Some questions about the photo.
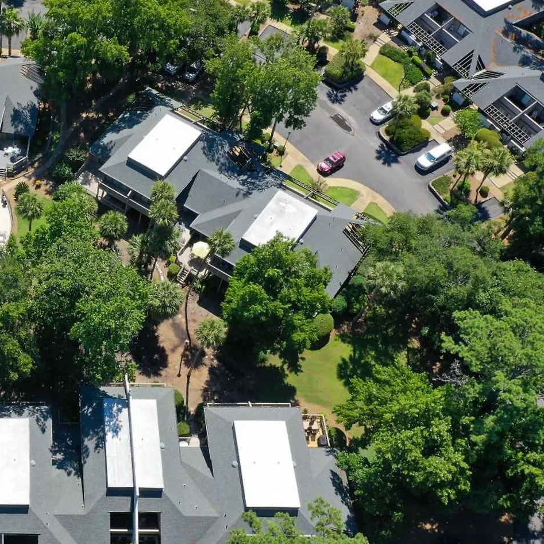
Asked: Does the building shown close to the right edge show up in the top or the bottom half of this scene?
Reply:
top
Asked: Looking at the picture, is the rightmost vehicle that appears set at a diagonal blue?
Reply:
No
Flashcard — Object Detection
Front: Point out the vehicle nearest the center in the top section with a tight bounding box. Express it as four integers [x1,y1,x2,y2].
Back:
[312,147,350,178]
